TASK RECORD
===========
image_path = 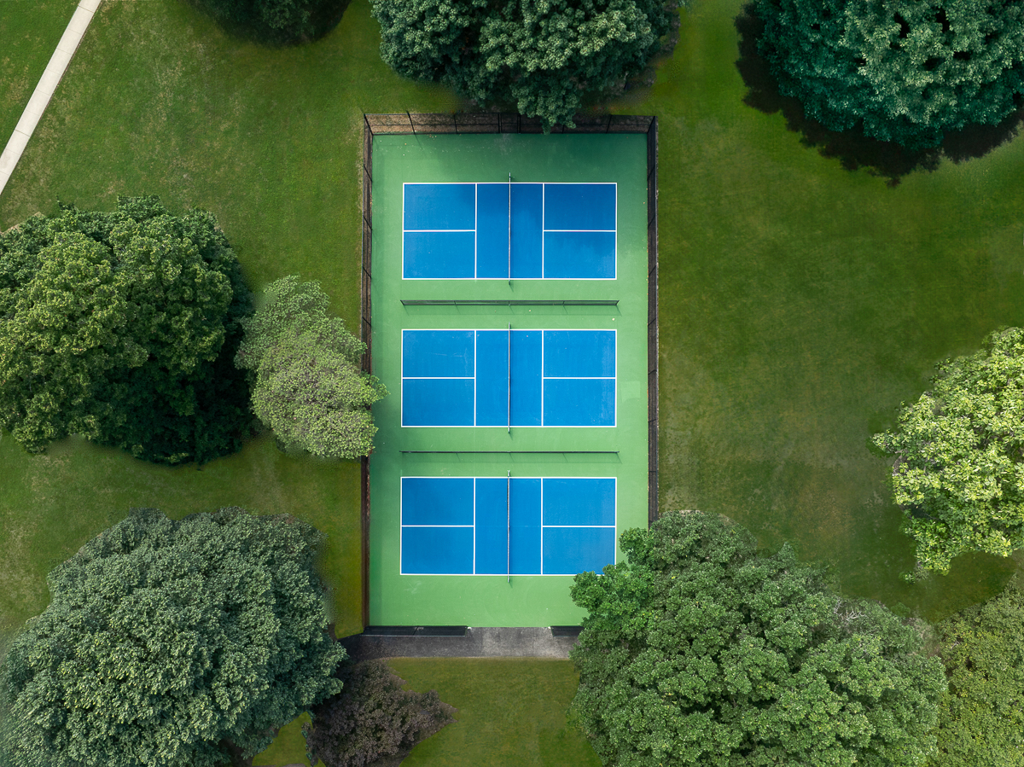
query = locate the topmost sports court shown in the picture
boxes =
[402,182,616,279]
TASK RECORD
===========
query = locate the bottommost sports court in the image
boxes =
[401,477,616,575]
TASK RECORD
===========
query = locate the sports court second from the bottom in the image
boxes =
[401,329,616,427]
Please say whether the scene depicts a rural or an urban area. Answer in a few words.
rural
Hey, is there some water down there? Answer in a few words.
No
